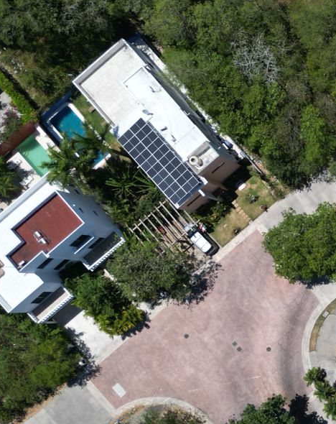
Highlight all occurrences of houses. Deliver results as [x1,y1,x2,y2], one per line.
[0,172,125,323]
[74,39,241,213]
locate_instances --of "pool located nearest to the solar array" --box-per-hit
[45,102,114,172]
